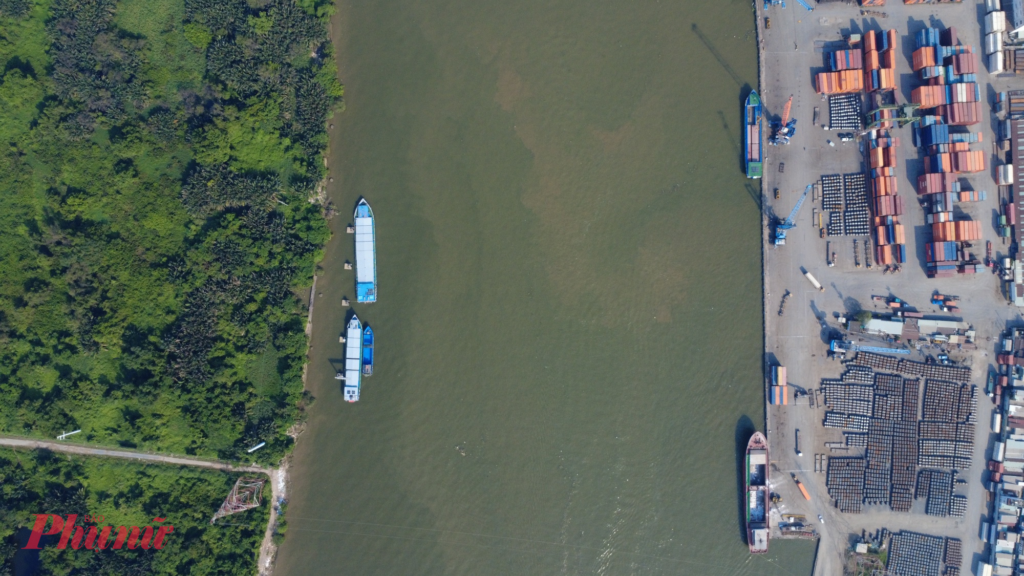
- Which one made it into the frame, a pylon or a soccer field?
pylon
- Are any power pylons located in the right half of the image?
Yes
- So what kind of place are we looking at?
port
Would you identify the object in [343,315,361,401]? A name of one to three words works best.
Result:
ship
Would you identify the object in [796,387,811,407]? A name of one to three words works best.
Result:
work vehicle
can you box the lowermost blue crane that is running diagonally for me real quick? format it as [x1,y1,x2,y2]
[765,185,811,242]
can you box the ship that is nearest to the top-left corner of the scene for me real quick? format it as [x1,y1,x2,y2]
[354,198,377,302]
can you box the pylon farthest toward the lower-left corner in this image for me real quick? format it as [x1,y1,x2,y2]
[210,482,259,526]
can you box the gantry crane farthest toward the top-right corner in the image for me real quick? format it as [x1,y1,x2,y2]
[864,102,925,129]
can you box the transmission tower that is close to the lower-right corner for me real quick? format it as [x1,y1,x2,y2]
[855,555,894,576]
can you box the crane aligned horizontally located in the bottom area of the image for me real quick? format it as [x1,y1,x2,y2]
[829,340,912,360]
